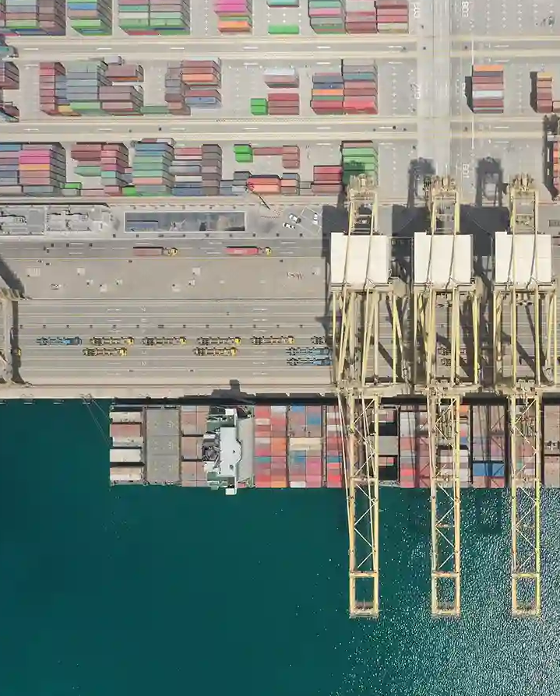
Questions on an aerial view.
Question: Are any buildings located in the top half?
Yes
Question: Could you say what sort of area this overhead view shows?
port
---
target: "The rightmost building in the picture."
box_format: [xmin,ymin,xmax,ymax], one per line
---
[47,205,109,233]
